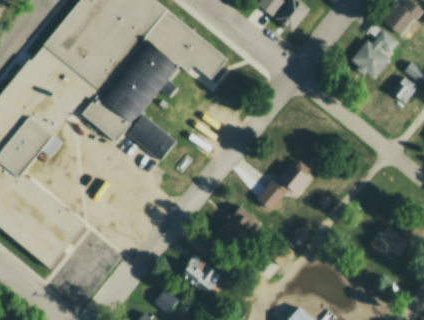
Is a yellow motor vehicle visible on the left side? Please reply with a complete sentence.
Yes, there is a yellow motor vehicle on the left side.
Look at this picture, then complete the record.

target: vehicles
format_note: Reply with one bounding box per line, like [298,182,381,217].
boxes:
[262,28,279,42]
[68,122,87,138]
[322,310,334,320]
[194,120,220,142]
[258,14,270,24]
[202,110,222,130]
[138,154,151,170]
[188,132,214,152]
[126,143,139,156]
[119,136,132,150]
[93,182,111,205]
[176,154,192,171]
[145,159,156,170]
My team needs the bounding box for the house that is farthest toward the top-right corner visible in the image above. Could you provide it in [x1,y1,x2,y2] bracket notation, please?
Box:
[385,0,424,40]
